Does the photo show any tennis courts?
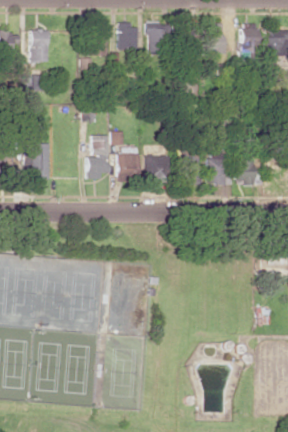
Yes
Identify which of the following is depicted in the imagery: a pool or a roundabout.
pool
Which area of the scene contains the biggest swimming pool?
bottom right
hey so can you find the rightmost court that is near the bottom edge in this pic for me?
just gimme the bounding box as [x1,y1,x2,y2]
[102,335,146,410]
